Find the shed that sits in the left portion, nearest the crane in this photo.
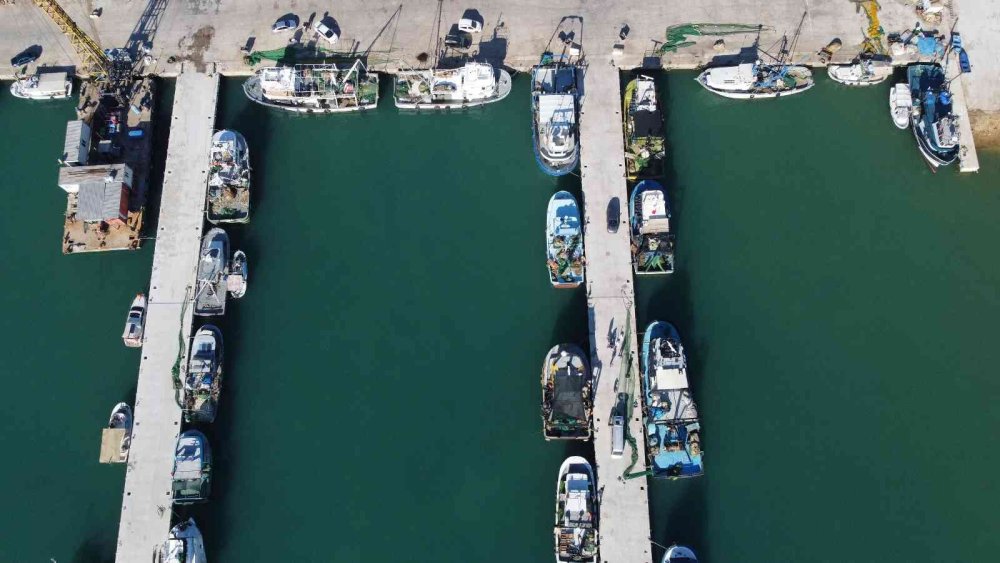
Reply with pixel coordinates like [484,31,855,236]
[61,123,92,167]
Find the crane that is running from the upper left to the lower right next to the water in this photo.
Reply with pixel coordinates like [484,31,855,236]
[21,0,140,112]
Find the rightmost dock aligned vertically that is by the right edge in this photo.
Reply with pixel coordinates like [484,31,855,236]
[944,64,979,175]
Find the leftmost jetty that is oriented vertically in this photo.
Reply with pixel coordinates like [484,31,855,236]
[115,74,221,563]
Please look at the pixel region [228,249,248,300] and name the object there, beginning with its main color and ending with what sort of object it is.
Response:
white boat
